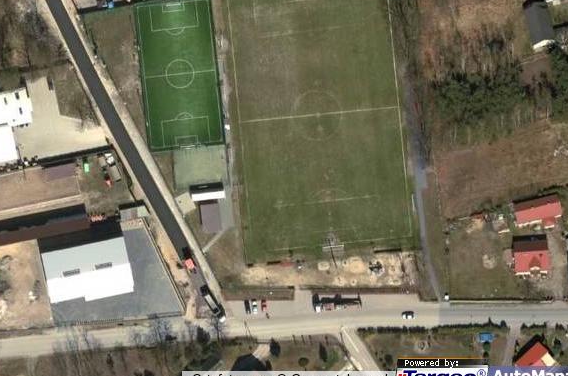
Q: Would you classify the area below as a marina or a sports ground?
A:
sports ground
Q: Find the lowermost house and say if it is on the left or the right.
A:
right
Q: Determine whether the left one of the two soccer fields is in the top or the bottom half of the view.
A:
top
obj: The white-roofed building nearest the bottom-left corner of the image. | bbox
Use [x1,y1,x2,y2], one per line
[40,237,133,305]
